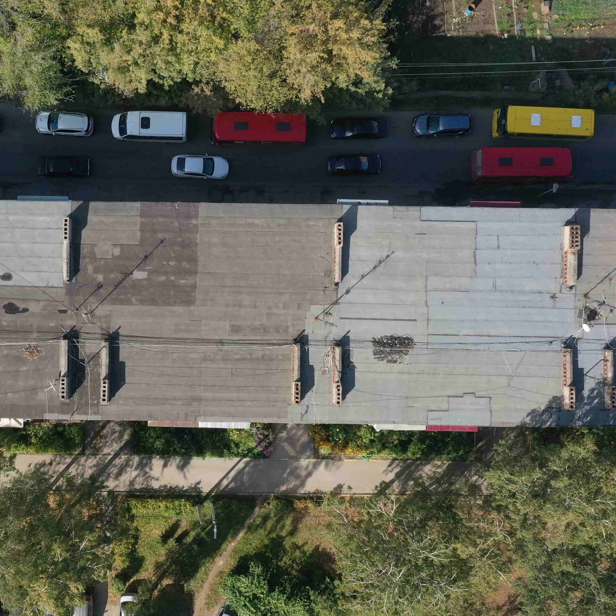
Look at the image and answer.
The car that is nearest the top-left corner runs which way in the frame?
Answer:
from side to side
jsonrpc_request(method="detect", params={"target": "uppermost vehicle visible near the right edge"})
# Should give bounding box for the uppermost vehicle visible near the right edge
[491,105,598,142]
